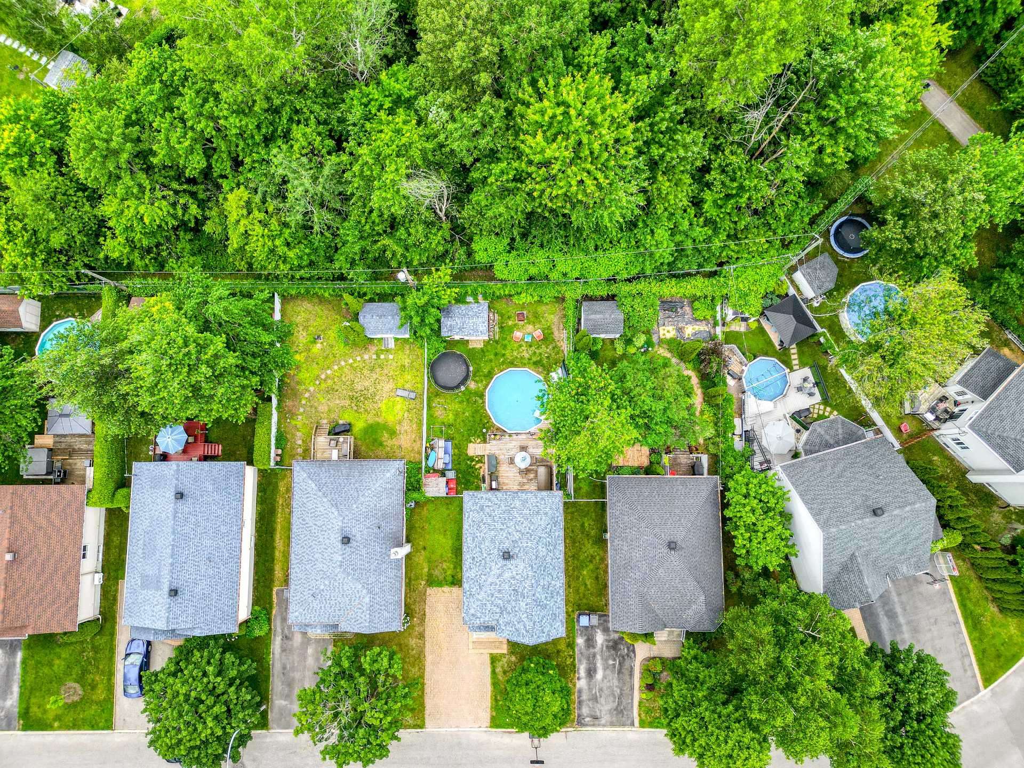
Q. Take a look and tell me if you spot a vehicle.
Yes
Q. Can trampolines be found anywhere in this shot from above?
Yes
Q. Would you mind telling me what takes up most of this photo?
trees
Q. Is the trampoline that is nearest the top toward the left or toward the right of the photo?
right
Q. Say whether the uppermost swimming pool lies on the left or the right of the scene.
right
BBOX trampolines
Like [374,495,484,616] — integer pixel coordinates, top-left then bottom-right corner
[827,208,883,260]
[427,347,472,393]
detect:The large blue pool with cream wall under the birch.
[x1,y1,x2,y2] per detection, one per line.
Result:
[835,279,910,348]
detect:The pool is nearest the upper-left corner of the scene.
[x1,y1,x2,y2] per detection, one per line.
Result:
[37,317,99,397]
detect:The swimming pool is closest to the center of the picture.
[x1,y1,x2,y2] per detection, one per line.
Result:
[486,370,546,432]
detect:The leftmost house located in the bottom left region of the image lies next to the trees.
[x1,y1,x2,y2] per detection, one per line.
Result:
[0,485,105,641]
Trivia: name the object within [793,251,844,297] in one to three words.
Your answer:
shed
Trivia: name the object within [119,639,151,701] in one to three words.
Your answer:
car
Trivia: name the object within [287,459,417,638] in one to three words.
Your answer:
house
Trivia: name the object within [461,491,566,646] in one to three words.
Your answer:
house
